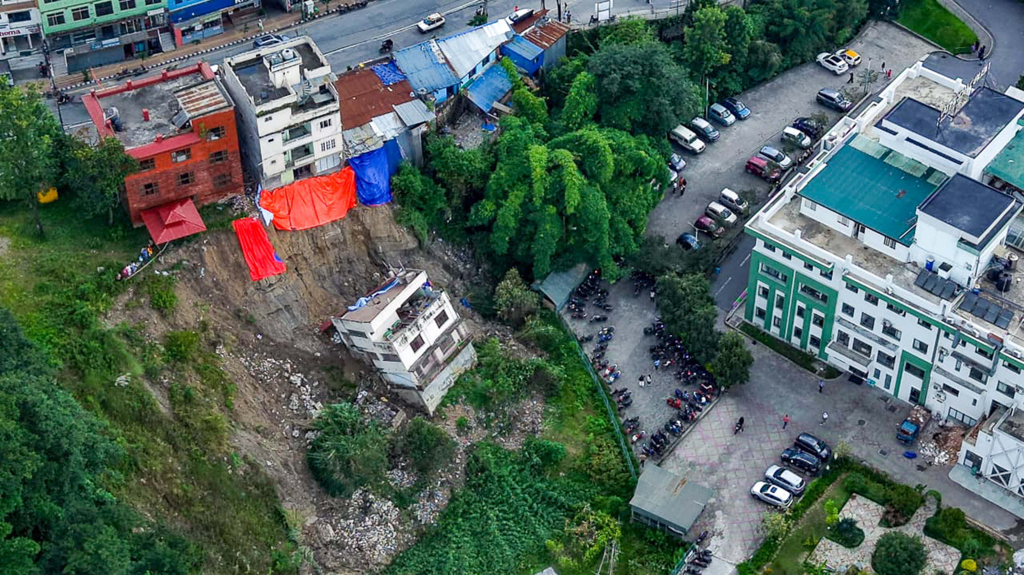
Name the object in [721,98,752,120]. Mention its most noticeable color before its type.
blue car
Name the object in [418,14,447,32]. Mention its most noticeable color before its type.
white car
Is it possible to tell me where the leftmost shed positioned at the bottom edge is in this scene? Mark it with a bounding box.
[630,461,712,547]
